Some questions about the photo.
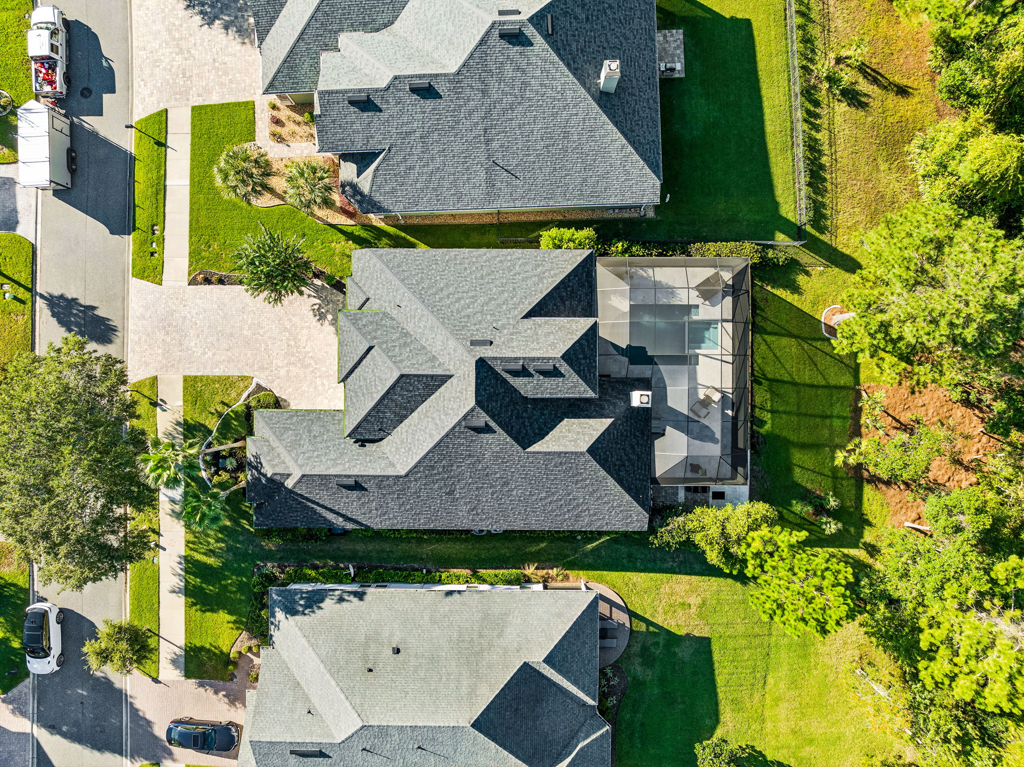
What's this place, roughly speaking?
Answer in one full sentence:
The picture captures a residential area.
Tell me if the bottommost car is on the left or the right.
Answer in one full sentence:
The bottommost car is on the left side of the image.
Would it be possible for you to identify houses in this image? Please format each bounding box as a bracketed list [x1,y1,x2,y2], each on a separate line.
[245,247,653,530]
[235,573,613,767]
[250,0,663,224]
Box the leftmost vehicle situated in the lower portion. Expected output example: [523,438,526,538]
[23,601,67,673]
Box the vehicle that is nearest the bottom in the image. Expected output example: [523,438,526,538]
[163,714,243,756]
